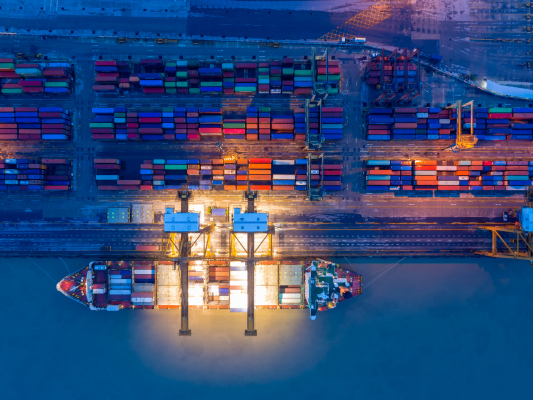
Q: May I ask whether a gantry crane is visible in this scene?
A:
Yes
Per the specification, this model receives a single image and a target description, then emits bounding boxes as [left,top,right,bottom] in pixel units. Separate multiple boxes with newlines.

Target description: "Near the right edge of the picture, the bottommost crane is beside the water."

[468,190,533,269]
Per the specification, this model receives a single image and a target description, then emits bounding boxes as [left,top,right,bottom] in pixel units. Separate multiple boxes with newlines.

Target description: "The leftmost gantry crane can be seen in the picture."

[160,190,221,338]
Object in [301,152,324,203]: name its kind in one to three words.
container crane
